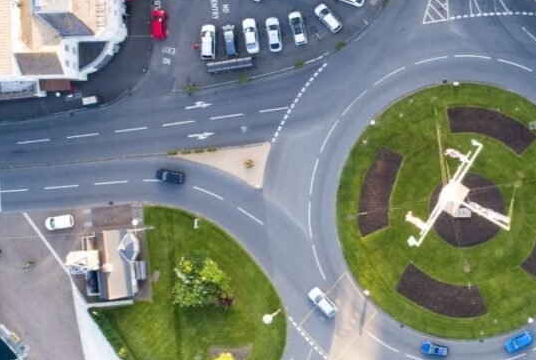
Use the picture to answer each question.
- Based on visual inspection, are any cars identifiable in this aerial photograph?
Yes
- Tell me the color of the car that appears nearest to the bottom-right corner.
blue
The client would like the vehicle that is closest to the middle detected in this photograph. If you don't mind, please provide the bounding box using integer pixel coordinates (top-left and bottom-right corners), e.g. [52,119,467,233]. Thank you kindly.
[152,167,186,185]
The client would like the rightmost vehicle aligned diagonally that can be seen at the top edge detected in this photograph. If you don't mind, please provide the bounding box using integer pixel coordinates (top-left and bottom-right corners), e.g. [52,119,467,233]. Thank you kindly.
[311,2,343,34]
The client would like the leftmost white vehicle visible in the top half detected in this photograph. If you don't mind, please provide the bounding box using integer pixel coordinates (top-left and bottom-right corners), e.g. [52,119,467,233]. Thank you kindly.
[196,23,215,59]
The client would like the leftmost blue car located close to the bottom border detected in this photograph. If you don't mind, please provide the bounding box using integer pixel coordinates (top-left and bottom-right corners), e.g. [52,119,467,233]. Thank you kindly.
[419,342,448,358]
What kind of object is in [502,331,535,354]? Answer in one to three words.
car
